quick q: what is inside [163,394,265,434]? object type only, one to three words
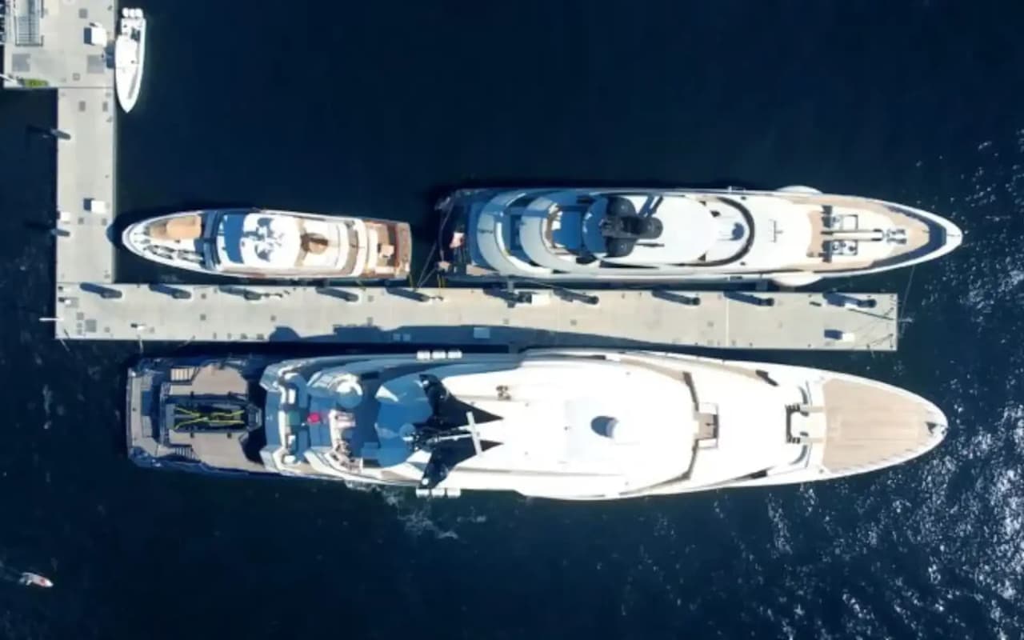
boat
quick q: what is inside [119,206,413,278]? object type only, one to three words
boat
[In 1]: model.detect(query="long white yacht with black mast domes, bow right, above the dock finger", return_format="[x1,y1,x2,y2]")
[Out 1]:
[439,182,967,286]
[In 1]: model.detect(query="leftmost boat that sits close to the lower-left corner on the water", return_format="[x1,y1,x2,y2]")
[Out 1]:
[16,571,54,588]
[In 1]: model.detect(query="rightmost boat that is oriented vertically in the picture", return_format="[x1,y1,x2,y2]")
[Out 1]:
[113,8,146,111]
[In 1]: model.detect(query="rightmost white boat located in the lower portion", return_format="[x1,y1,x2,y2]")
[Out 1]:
[127,351,951,499]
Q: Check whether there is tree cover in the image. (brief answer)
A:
No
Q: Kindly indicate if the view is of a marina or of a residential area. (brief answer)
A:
marina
